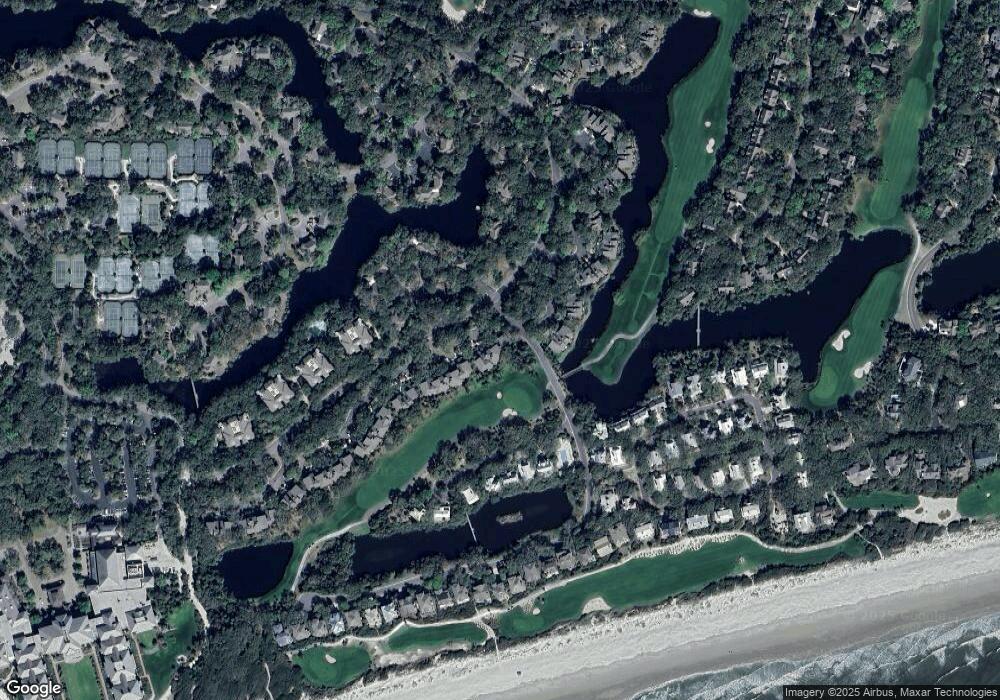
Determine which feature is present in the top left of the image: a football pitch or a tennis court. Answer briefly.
tennis court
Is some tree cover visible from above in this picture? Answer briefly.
Yes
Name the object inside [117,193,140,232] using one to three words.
tennis court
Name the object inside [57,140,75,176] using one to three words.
tennis court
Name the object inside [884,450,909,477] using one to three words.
house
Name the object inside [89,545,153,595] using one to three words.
building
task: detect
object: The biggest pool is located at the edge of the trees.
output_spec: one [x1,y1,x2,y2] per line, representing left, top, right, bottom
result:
[557,443,571,467]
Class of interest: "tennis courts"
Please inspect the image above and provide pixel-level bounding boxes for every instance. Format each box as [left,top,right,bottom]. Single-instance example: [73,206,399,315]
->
[38,139,57,175]
[104,301,121,339]
[53,253,69,289]
[84,142,103,179]
[57,140,75,176]
[116,257,134,294]
[103,142,121,179]
[117,193,140,232]
[194,138,213,175]
[97,257,116,294]
[121,301,139,339]
[176,138,194,174]
[203,234,220,266]
[196,182,212,217]
[186,234,203,265]
[69,253,86,289]
[130,143,148,179]
[148,143,168,180]
[141,259,159,294]
[142,193,164,232]
[159,257,176,292]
